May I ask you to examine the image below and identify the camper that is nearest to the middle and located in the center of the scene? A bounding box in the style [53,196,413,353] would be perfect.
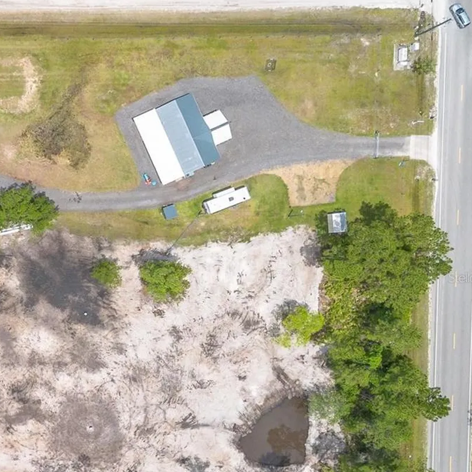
[201,186,256,216]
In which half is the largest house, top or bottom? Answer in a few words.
top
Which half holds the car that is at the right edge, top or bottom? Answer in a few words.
top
